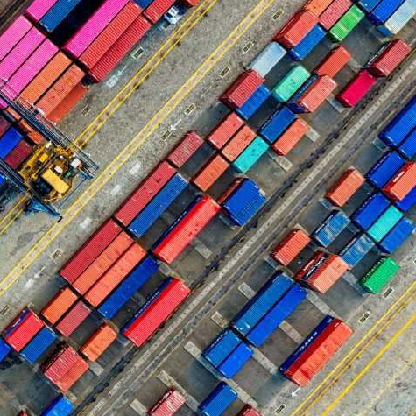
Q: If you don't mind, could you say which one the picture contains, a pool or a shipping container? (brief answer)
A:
shipping container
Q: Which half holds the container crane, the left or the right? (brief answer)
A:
left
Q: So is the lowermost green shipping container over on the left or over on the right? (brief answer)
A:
right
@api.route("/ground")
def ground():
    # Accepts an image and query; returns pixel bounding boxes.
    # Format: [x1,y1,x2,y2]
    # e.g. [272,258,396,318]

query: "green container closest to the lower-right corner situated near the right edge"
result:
[357,256,401,294]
